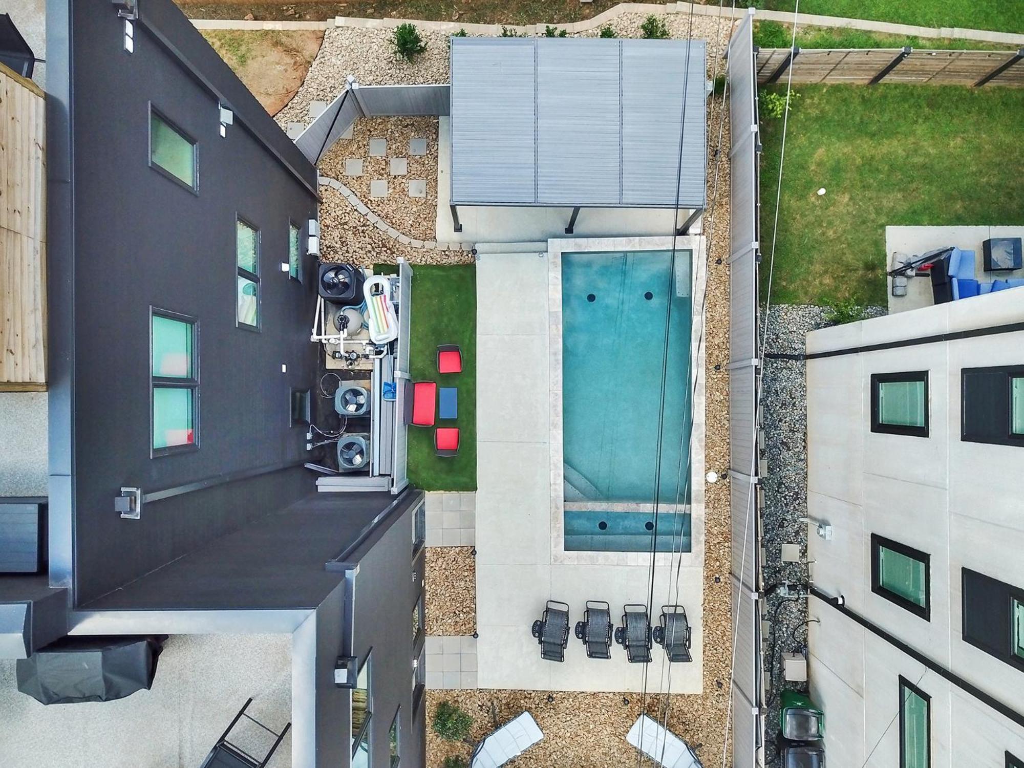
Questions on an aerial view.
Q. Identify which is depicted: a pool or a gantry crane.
pool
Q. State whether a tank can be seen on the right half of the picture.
No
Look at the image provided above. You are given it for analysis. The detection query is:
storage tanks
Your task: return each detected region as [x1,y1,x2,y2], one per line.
[337,307,366,338]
